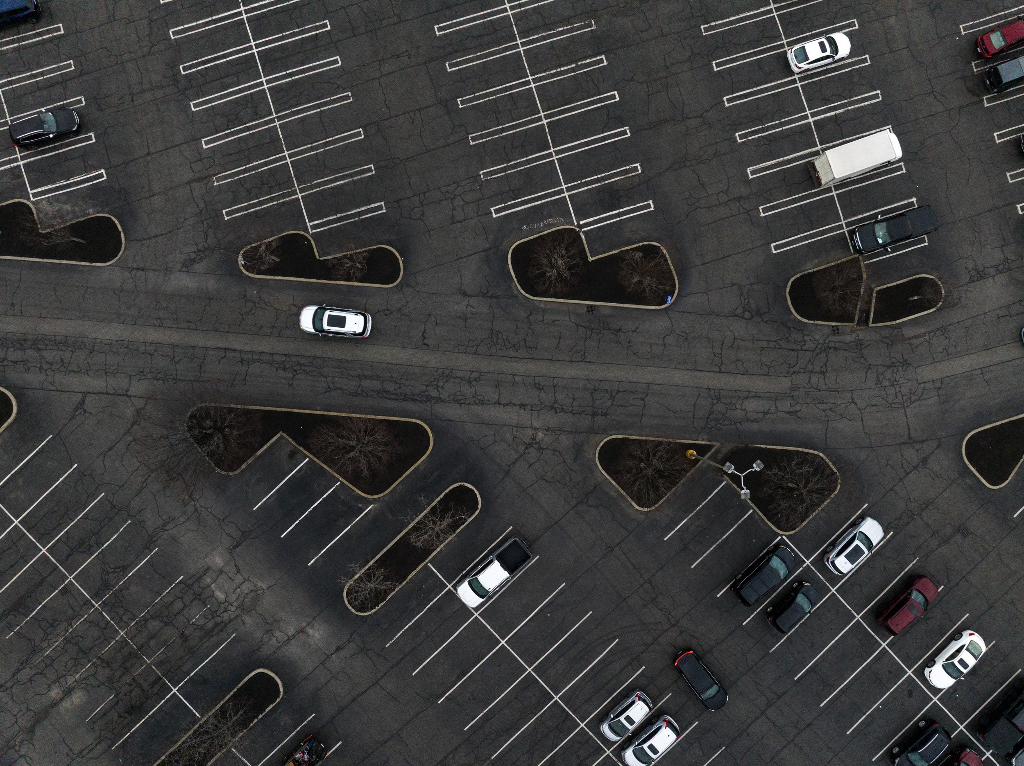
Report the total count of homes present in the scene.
0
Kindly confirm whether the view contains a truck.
Yes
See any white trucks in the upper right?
Yes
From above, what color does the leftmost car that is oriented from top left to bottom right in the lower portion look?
black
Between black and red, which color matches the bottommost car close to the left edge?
black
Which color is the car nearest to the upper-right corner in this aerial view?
red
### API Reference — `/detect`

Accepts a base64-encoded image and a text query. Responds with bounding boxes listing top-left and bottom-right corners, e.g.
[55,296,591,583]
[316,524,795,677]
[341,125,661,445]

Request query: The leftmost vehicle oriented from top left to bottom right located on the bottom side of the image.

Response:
[674,649,726,711]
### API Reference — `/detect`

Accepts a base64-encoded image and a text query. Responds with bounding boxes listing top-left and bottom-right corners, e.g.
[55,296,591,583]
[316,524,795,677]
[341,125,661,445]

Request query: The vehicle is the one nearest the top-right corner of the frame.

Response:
[973,17,1024,59]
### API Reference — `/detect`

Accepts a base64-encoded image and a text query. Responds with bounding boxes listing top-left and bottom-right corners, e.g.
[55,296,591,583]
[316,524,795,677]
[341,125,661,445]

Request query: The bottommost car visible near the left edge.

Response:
[8,107,84,150]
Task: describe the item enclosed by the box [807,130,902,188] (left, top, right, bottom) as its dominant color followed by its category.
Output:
white truck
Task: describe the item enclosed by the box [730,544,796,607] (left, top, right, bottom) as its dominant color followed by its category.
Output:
black car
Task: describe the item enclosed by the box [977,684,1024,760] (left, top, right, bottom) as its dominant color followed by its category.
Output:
black truck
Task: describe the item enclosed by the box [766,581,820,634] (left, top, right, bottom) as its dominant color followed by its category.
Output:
black car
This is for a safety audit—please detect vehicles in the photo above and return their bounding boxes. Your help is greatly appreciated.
[889,719,954,766]
[300,303,372,338]
[0,0,45,33]
[852,204,944,253]
[973,17,1024,59]
[600,688,654,743]
[8,107,84,150]
[875,575,938,637]
[674,649,726,711]
[786,33,850,75]
[807,130,902,188]
[766,581,820,634]
[730,544,796,607]
[982,55,1024,94]
[621,714,681,766]
[977,684,1024,760]
[926,631,986,688]
[936,745,979,766]
[459,535,534,608]
[822,518,884,576]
